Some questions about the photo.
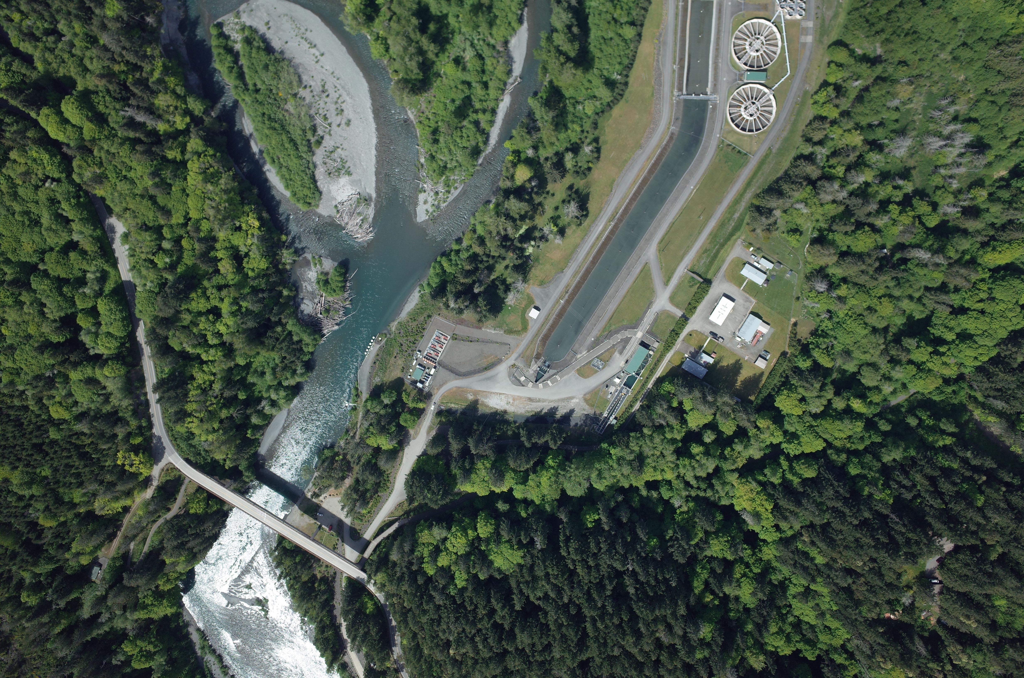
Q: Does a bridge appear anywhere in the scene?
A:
Yes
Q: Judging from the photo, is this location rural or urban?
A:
rural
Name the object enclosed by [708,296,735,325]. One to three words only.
building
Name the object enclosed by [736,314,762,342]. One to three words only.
building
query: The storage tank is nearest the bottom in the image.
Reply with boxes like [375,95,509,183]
[726,84,777,135]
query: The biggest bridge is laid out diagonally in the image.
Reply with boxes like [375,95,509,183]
[165,449,375,589]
